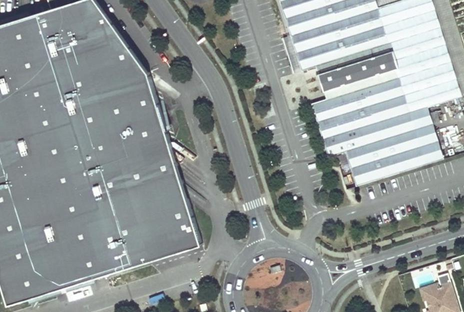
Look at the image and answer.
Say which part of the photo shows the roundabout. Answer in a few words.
bottom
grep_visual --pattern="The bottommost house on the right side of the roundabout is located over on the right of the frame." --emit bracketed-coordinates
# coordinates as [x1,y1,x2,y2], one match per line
[420,274,462,312]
